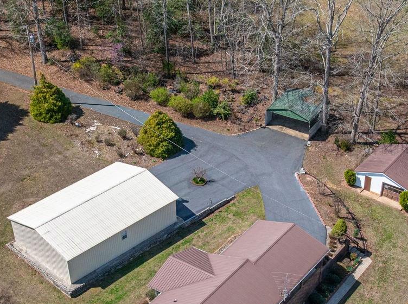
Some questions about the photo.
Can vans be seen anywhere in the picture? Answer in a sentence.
No, I can see no van in this picture.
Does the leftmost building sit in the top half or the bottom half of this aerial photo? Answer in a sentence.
The leftmost building sits in the bottom half of the picture.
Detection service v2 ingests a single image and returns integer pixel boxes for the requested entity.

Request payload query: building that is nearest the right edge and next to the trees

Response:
[355,144,408,206]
